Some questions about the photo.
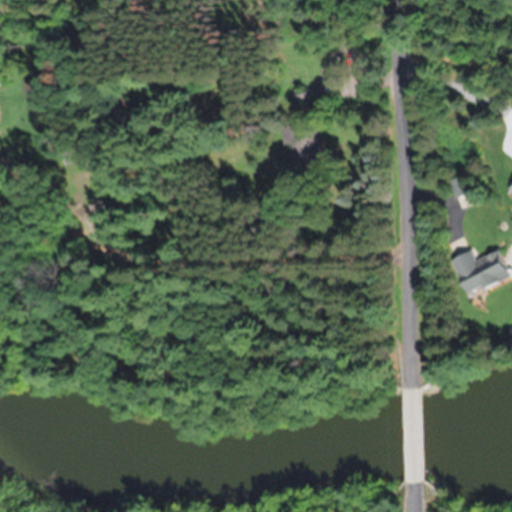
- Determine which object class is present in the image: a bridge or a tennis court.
bridge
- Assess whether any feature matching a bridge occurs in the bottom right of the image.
Yes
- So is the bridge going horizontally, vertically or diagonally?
vertically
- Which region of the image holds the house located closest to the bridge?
right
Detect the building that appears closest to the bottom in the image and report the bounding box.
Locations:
[451,249,510,298]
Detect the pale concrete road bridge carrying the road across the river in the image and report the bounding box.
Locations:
[400,386,437,502]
